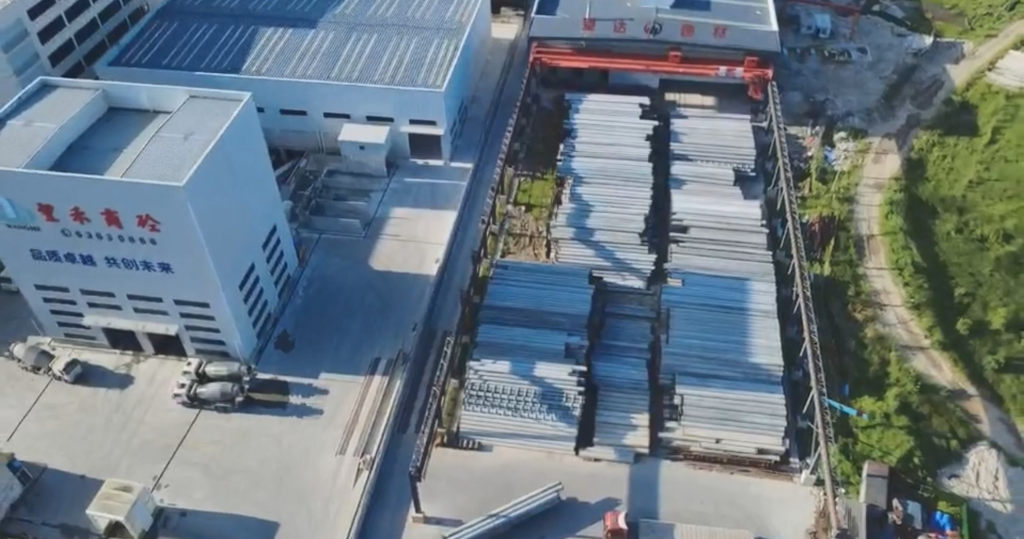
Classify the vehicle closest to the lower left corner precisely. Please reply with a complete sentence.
It looks like the vehicle closest to the lower left corner is a truck.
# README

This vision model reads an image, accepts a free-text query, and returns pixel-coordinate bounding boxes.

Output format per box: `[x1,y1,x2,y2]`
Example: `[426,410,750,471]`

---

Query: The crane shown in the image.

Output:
[521,48,782,113]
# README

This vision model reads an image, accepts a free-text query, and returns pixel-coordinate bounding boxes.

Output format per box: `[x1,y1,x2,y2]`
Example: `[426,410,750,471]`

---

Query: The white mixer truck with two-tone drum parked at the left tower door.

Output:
[1,336,85,384]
